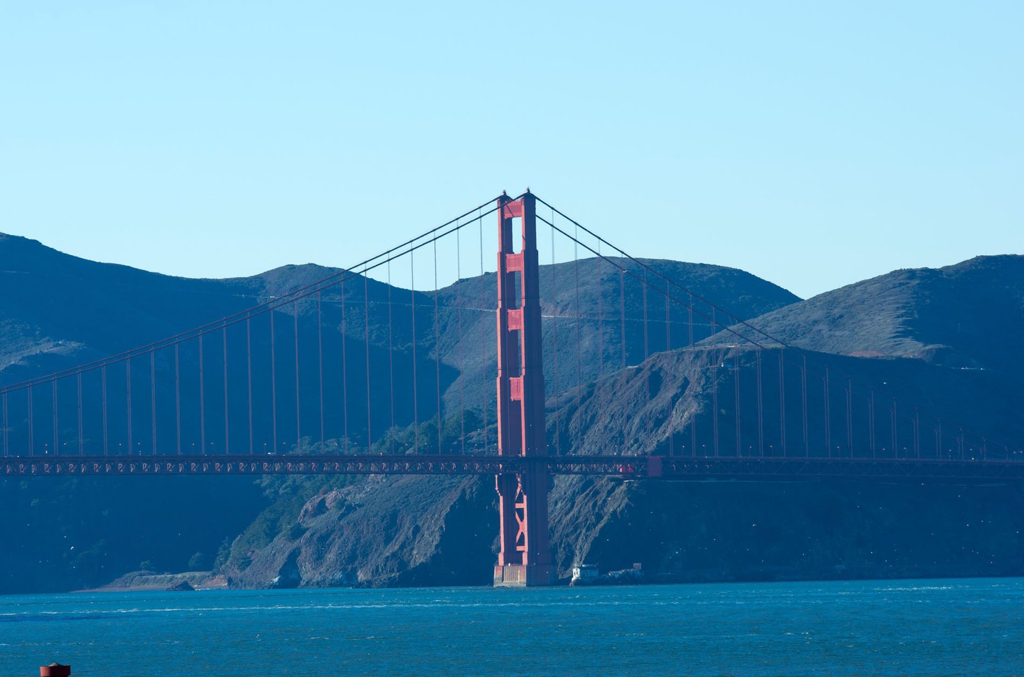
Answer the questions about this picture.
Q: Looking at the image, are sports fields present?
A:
No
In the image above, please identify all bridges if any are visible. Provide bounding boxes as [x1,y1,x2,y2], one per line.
[0,186,1024,588]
